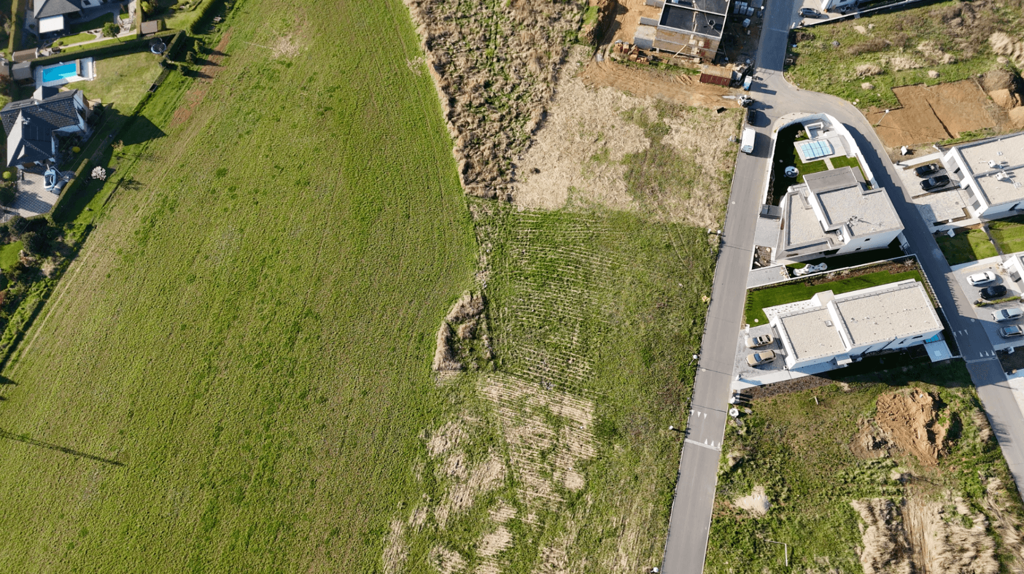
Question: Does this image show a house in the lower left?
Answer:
No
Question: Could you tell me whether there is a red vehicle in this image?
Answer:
No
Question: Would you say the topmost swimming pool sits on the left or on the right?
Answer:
left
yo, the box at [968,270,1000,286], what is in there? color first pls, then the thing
white car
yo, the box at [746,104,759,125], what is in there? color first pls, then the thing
black vehicle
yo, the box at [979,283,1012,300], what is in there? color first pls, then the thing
black car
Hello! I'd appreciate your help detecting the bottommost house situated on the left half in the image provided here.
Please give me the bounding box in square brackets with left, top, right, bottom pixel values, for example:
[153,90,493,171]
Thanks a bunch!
[0,86,86,175]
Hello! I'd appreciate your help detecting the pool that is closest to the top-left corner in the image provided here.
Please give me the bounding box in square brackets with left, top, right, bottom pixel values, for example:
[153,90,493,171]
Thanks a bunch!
[41,62,76,83]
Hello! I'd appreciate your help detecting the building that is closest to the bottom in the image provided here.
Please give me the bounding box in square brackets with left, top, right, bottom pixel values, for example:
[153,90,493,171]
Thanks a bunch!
[771,282,944,369]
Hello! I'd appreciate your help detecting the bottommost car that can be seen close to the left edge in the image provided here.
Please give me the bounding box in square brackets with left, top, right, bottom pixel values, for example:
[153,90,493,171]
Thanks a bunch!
[46,174,69,198]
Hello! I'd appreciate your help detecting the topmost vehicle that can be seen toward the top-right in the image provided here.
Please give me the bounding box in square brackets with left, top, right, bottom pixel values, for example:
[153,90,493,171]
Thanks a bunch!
[797,4,823,19]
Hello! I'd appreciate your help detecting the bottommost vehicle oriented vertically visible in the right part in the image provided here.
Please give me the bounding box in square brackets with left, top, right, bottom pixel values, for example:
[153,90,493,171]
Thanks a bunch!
[741,124,757,154]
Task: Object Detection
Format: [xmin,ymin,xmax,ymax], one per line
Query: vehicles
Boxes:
[733,91,757,108]
[746,104,759,125]
[741,124,757,154]
[745,332,777,349]
[968,270,1000,286]
[921,174,952,190]
[979,283,1012,300]
[746,349,779,367]
[994,305,1024,322]
[914,161,944,178]
[797,4,823,19]
[46,174,69,198]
